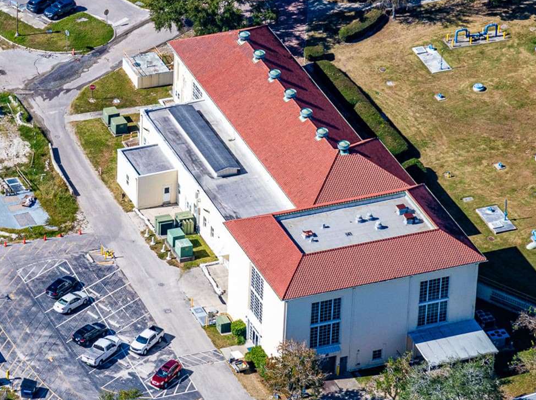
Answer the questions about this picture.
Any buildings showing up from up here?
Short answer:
Yes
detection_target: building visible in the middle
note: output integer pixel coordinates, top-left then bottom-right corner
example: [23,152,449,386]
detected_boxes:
[118,24,501,385]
